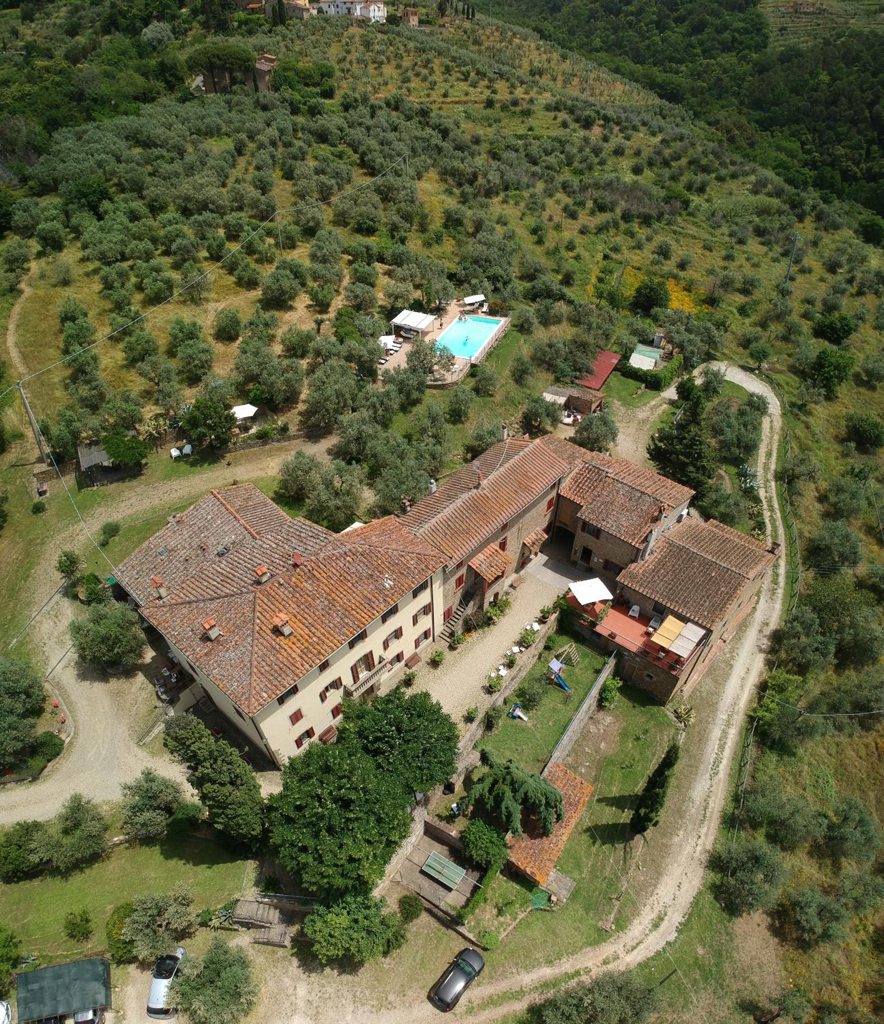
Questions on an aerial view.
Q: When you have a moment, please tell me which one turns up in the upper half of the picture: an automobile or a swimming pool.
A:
swimming pool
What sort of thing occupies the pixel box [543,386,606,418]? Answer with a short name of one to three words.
shed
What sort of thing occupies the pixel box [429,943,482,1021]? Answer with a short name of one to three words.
car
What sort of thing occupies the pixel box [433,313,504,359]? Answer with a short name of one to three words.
swimming pool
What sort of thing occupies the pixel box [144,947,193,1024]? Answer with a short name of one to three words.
car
